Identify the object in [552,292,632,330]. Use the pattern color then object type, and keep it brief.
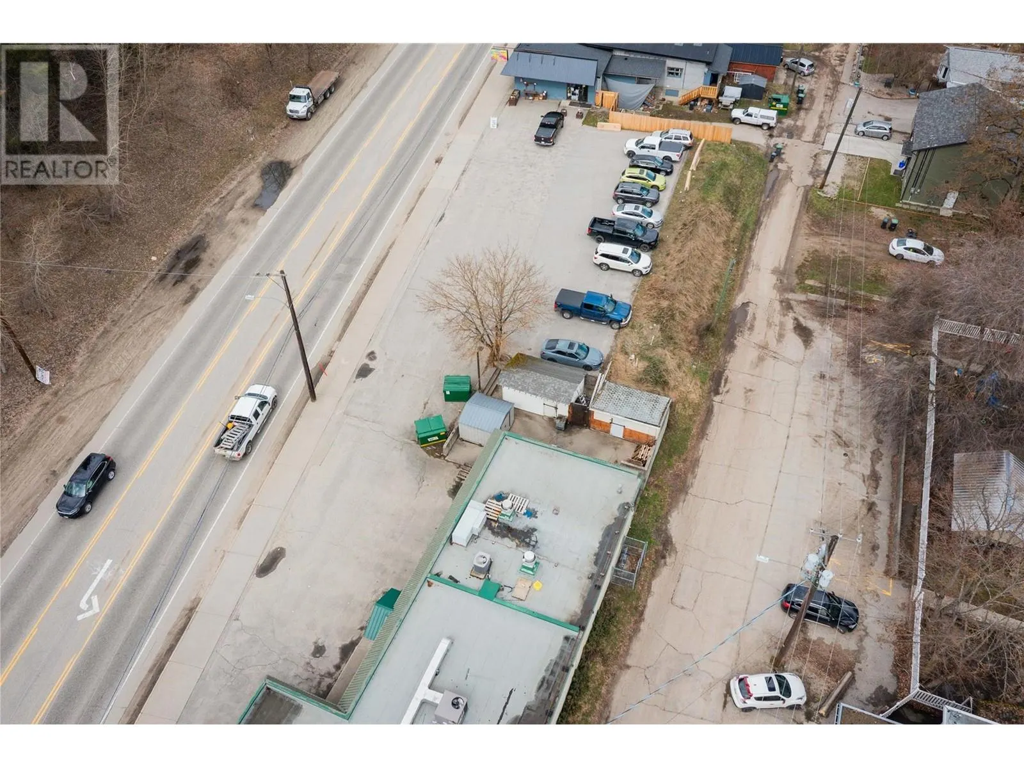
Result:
blue truck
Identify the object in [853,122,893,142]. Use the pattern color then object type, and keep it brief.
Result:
gray car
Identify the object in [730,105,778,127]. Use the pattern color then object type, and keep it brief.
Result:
white truck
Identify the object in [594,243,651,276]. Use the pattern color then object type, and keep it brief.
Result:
white car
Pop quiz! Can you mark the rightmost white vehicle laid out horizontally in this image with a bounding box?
[888,240,943,268]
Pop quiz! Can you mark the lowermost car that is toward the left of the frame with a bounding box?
[57,452,124,520]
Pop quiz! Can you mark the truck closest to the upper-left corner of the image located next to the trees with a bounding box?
[288,71,344,118]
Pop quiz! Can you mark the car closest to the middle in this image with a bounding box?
[541,341,603,372]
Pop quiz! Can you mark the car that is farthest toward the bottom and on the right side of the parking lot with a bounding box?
[727,670,808,715]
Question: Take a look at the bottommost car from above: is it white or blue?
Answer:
white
